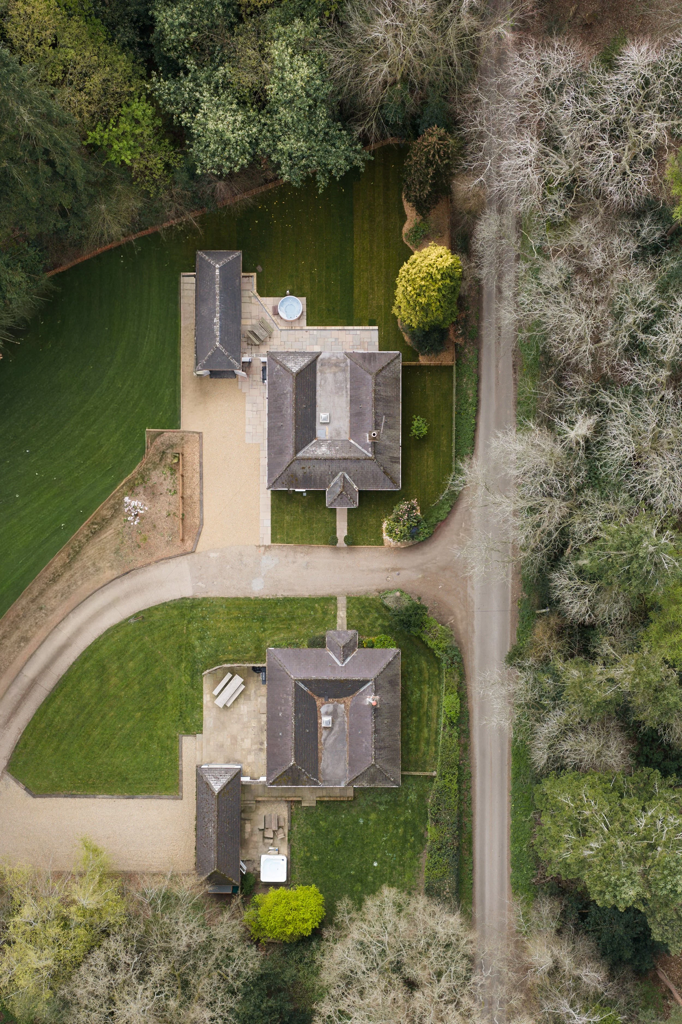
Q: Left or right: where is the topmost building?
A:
left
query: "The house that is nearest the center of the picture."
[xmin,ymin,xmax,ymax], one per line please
[266,350,402,509]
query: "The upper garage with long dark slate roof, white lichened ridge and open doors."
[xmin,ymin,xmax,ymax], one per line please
[195,250,251,381]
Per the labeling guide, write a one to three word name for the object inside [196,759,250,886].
building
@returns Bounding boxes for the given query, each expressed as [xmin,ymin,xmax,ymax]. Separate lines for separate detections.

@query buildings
[196,759,250,886]
[265,629,402,788]
[195,250,251,381]
[266,350,402,509]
